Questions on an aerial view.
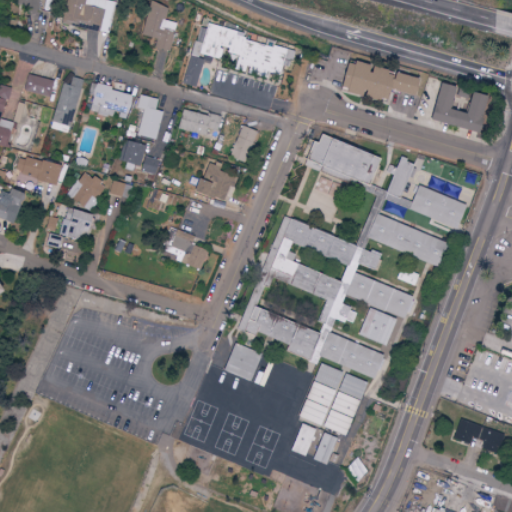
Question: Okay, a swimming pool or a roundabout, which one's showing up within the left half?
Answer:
swimming pool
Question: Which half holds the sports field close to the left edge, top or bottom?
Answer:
bottom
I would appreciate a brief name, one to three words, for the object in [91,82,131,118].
house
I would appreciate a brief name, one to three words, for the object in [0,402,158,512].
sports field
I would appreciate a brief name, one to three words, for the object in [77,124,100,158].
swimming pool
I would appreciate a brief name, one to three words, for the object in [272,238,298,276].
building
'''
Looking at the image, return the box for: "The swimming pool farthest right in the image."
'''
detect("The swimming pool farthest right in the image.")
[198,60,217,90]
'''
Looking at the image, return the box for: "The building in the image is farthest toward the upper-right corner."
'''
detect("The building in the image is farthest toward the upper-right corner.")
[433,82,489,132]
